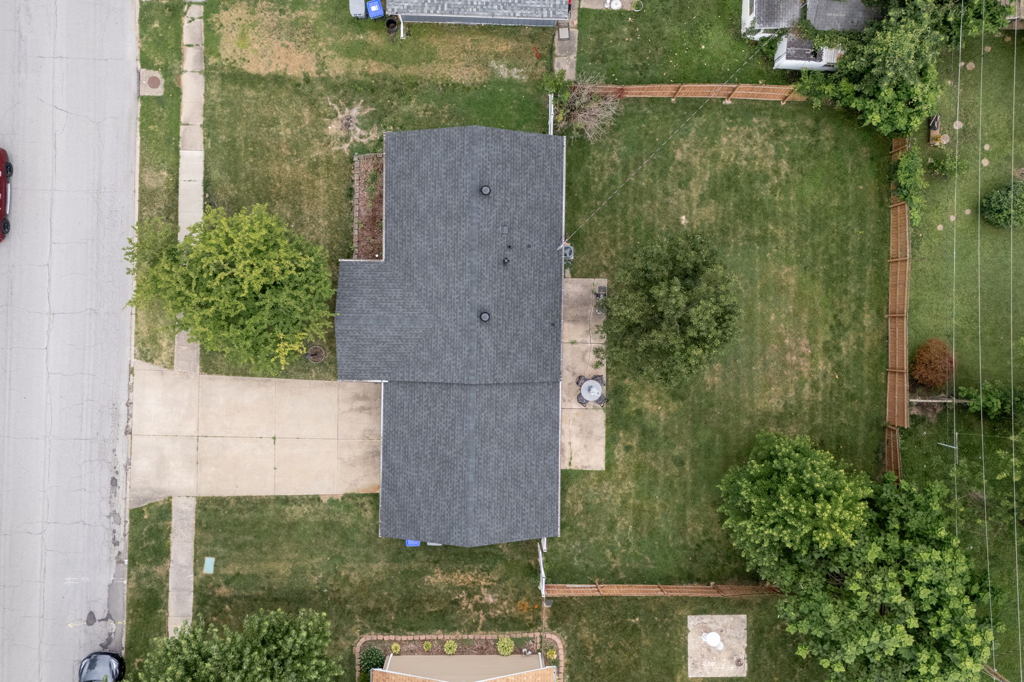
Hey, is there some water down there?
No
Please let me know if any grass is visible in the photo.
Yes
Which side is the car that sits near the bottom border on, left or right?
left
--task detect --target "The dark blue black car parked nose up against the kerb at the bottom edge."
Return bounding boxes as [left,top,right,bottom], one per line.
[79,653,125,682]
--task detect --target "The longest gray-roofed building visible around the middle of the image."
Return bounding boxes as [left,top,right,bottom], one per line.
[335,125,567,547]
